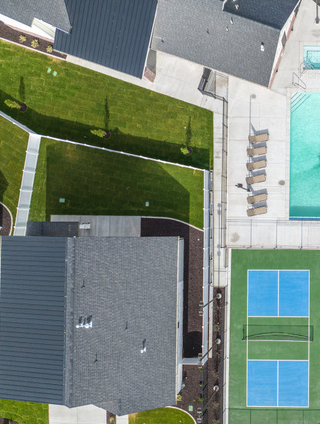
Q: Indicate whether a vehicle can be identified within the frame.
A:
No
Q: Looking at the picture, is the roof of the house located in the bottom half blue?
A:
No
